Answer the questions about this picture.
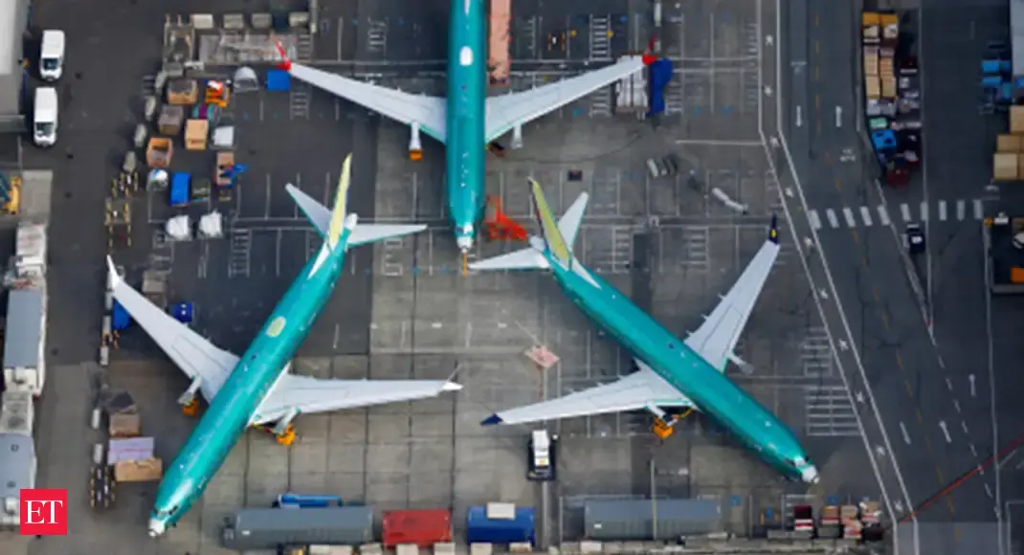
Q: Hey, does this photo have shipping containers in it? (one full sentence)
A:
Yes, looking at the shot, I can spot a shipping container.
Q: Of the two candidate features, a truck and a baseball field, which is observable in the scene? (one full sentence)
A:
Looking from above, you can make out a truck.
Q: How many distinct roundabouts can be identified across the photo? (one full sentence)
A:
I count no roundabouts.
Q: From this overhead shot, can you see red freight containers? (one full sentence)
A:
Yes, this view includes a red freight container.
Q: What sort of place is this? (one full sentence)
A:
The picture captures an airport.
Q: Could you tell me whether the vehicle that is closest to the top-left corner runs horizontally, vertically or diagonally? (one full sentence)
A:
In this picture, the vehicle that is closest to the top-left corner lies vertically.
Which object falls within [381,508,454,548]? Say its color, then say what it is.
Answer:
red shipping container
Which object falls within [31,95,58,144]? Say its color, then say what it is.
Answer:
white vehicle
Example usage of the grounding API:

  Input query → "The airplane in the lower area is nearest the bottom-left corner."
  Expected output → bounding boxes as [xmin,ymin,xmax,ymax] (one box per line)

[105,155,463,537]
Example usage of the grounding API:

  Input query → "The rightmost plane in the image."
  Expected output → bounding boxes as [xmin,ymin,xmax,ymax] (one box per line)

[470,178,821,484]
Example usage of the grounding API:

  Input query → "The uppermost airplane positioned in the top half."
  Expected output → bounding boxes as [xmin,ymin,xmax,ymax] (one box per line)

[275,0,658,255]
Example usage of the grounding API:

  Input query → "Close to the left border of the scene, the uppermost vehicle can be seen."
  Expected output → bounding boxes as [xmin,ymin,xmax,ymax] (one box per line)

[37,32,64,80]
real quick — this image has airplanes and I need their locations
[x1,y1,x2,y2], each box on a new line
[470,178,821,484]
[275,0,658,255]
[105,155,463,537]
